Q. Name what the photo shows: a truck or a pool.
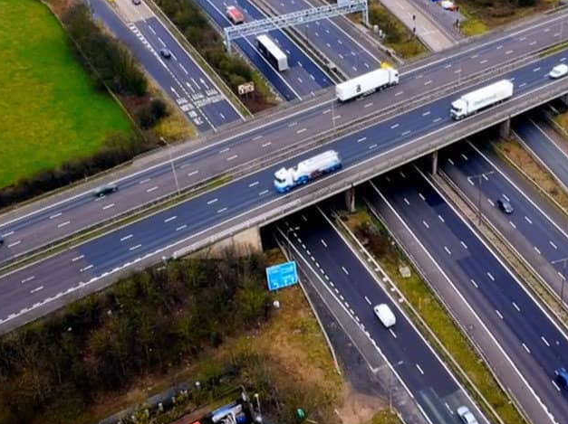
truck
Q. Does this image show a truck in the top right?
Yes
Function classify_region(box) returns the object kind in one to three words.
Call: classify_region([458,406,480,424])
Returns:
car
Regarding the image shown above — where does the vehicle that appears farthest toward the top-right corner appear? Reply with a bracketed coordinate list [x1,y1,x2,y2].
[550,62,567,75]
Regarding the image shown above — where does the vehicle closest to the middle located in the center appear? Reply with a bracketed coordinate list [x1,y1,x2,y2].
[274,150,342,193]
